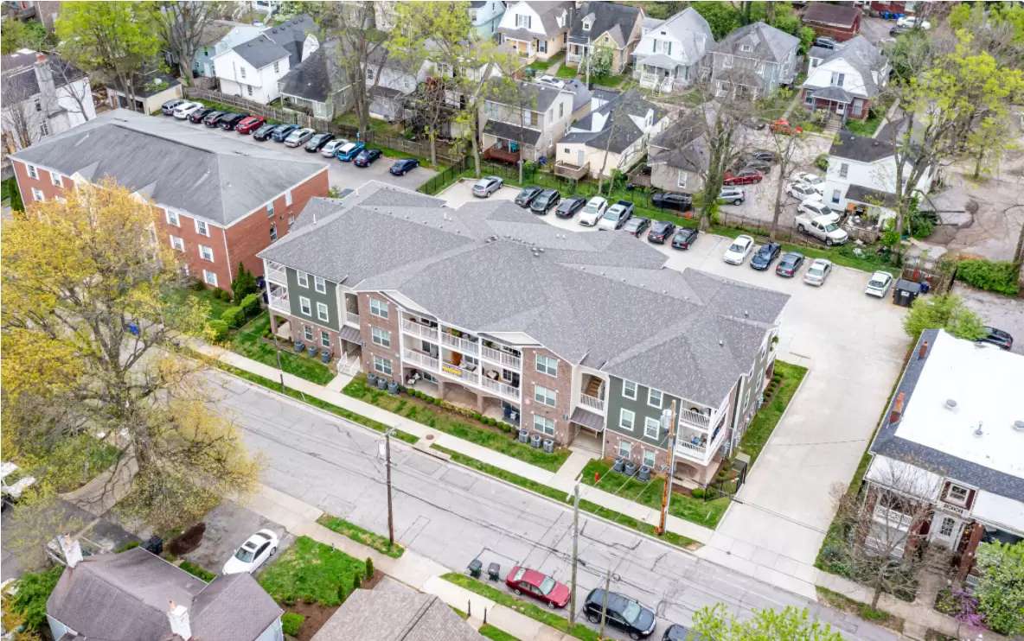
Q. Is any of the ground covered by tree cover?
Yes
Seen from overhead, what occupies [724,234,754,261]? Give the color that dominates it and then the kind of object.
white car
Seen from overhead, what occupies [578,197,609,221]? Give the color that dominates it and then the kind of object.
white car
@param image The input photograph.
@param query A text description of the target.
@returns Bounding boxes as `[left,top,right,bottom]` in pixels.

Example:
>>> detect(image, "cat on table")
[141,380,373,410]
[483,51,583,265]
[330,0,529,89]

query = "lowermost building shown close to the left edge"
[39,542,284,641]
